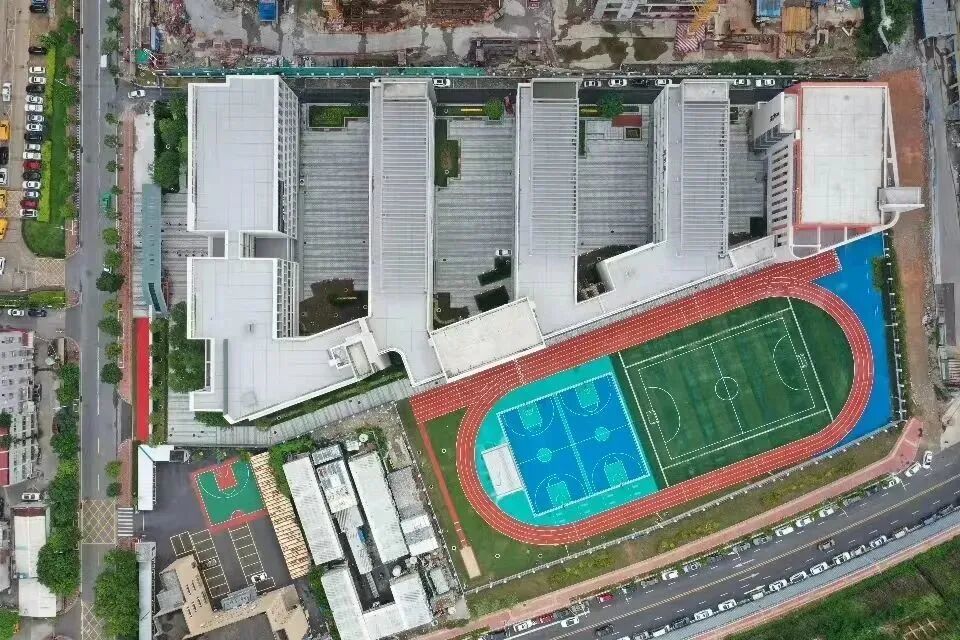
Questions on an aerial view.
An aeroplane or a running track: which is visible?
running track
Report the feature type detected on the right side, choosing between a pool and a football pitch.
football pitch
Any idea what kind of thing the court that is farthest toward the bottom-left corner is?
basketball court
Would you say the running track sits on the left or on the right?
right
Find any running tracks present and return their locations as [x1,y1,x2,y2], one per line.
[409,247,875,545]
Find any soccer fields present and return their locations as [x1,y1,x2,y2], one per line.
[617,297,855,488]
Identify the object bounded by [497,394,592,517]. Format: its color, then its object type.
blue basketball court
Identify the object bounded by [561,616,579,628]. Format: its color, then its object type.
white vehicle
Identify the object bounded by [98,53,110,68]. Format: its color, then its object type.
white vehicle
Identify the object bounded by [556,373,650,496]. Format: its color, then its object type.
blue basketball court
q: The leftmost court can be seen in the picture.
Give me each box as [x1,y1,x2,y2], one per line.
[189,459,268,534]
